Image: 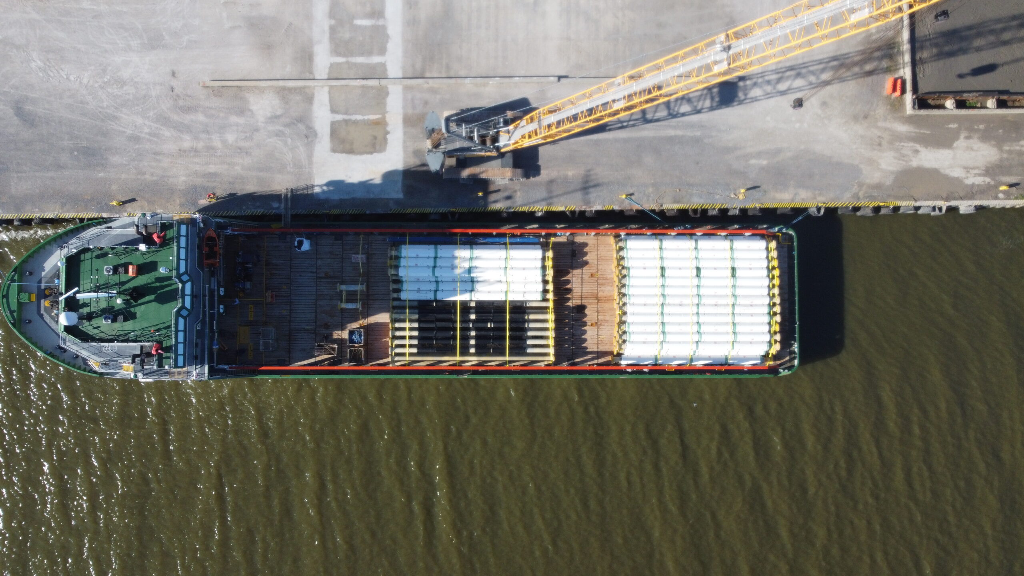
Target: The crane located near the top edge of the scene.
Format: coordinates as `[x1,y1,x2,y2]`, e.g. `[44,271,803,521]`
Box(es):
[425,0,973,182]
